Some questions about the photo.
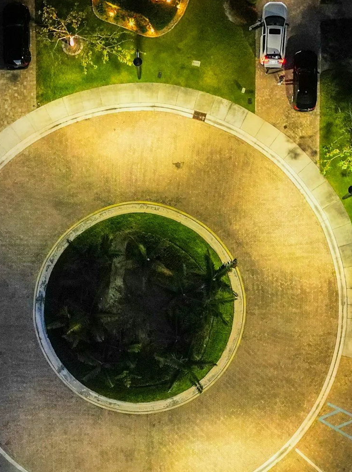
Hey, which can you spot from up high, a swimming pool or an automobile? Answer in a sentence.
Of the two, only an automobile appears.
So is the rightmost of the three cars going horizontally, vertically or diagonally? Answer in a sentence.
The rightmost of the three cars is oriented vertically.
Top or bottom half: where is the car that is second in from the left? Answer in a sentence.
It is in the top half that the car that is second in from the left appears.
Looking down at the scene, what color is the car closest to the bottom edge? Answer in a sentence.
The car closest to the bottom edge looks black in the image.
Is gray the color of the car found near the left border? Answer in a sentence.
No, the car found near the left border is actually black.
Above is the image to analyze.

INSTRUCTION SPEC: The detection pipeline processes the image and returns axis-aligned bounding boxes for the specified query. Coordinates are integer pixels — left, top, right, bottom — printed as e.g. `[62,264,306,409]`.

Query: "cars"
[290,50,322,114]
[247,2,290,70]
[0,3,34,71]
